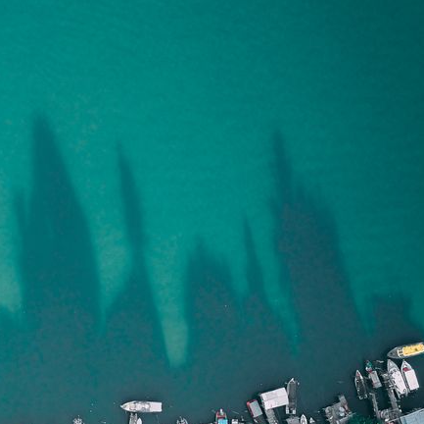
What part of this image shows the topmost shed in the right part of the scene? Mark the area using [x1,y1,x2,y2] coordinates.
[256,387,289,411]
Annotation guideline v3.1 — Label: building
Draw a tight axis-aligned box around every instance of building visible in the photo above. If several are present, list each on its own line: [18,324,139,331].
[395,408,424,424]
[256,387,289,411]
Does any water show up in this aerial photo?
Yes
